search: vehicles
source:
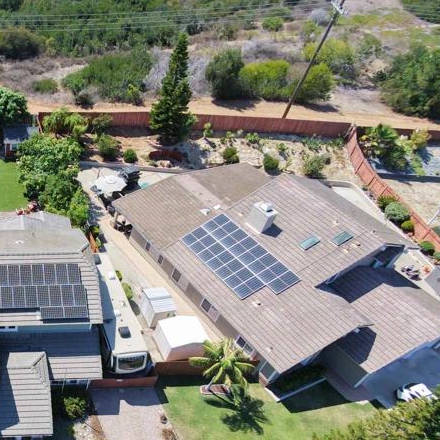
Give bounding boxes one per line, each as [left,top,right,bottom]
[387,368,440,406]
[92,254,153,388]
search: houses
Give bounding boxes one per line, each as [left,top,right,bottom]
[107,163,440,385]
[0,211,103,440]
